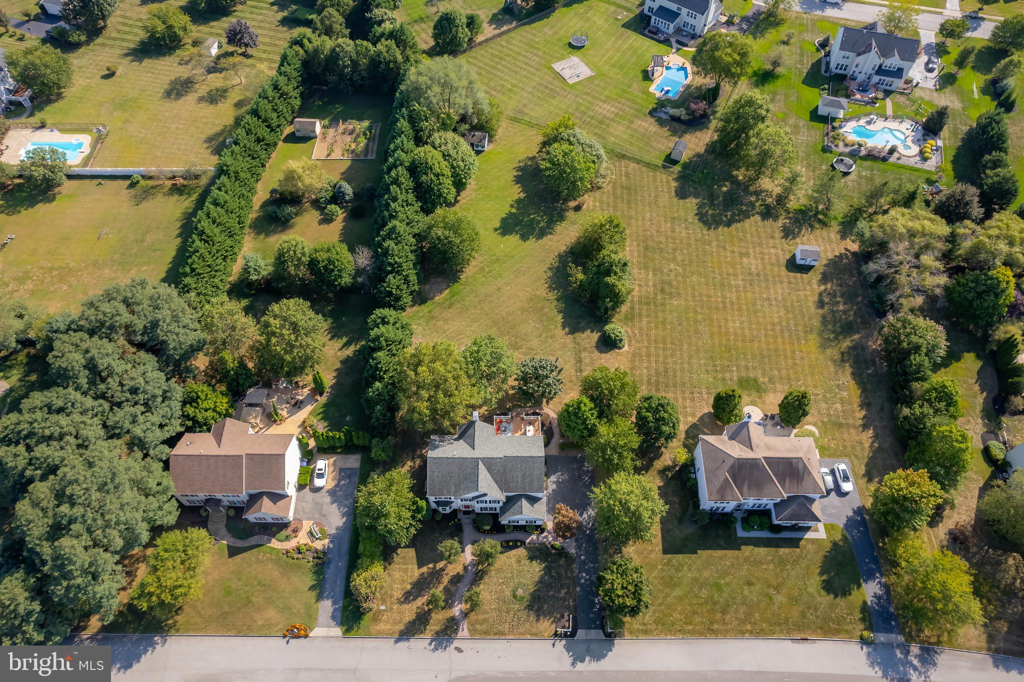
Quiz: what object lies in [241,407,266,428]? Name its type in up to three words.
gazebo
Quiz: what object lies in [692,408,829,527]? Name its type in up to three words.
house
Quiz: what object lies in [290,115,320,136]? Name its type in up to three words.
shed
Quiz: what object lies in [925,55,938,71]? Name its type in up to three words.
vehicle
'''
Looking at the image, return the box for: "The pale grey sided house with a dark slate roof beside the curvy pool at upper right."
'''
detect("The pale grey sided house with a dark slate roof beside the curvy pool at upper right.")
[829,11,921,89]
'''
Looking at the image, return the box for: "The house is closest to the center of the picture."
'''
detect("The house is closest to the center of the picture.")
[426,409,546,524]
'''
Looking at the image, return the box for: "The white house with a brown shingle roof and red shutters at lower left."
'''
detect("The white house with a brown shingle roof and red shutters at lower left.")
[167,415,303,522]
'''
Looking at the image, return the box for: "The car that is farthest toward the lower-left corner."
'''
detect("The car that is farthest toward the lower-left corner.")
[313,459,329,487]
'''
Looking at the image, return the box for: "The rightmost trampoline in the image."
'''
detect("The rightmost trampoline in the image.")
[833,158,855,176]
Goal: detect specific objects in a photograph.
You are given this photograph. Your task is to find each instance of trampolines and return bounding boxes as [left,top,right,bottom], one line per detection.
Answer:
[833,158,855,176]
[571,31,587,49]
